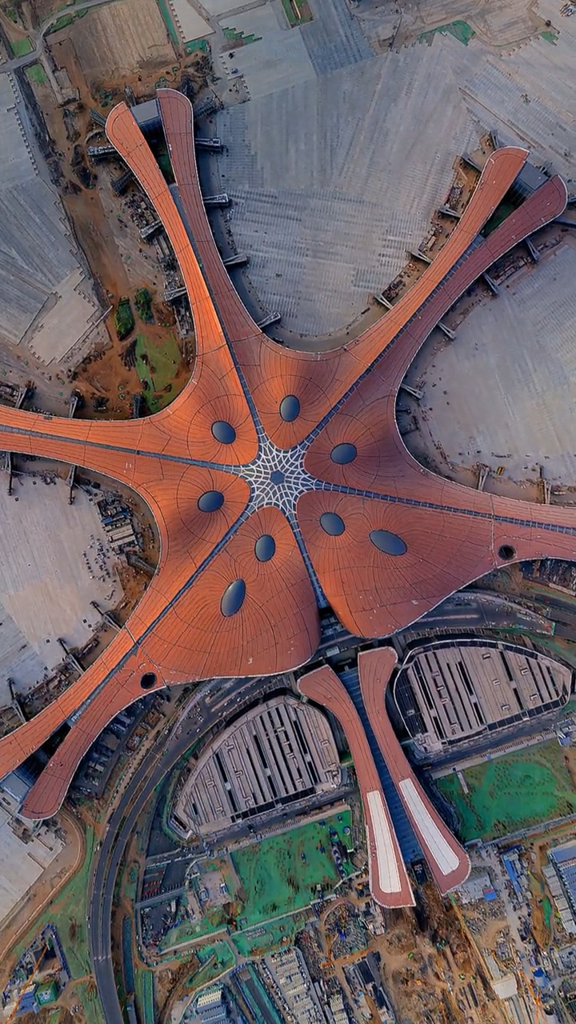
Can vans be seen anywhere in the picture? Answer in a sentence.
No, I can't see a single van in this photo.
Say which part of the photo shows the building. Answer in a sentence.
The building appears toward the center of the photo.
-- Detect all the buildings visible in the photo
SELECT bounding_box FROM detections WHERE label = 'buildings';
[0,88,576,820]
